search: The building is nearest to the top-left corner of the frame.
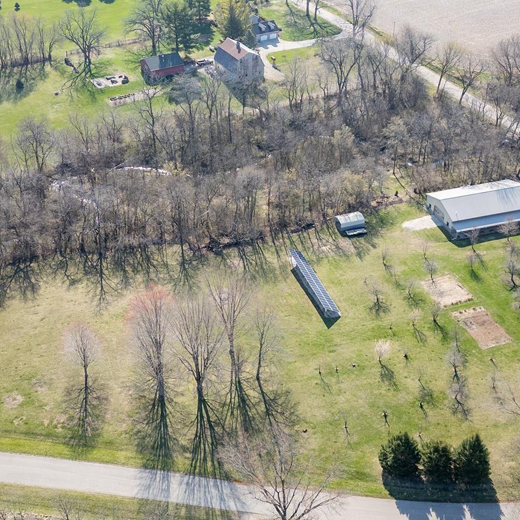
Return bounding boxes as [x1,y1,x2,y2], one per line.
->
[142,54,186,80]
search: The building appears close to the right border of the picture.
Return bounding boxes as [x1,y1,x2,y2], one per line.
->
[424,180,520,246]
